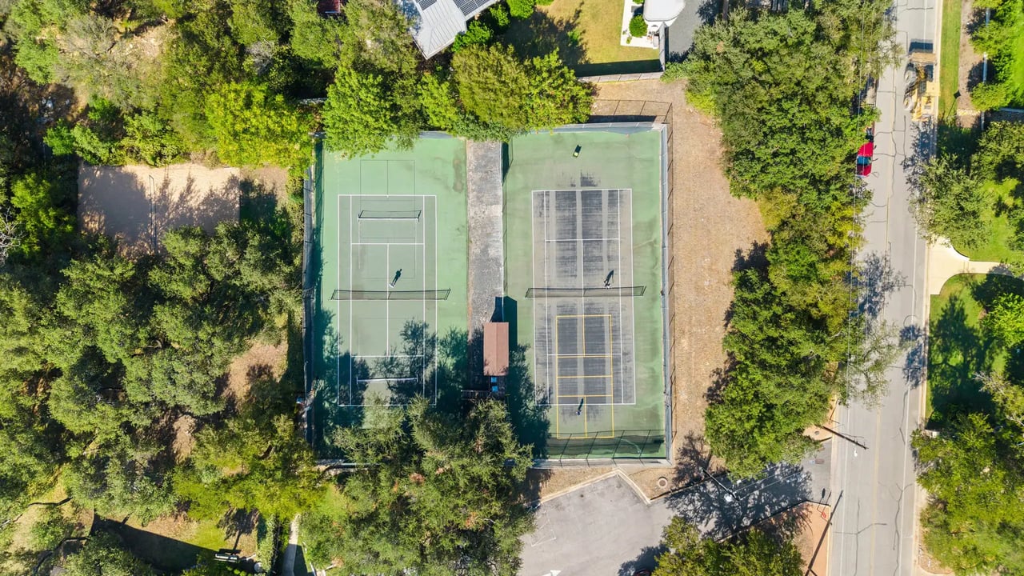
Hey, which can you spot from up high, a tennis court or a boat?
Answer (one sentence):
It is a tennis court that can be seen here.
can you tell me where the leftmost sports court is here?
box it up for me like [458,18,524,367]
[77,165,240,258]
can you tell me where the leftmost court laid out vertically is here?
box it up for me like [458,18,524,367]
[313,131,466,460]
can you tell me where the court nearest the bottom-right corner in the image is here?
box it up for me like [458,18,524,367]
[503,128,666,459]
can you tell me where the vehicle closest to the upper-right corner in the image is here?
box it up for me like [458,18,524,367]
[904,49,940,116]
